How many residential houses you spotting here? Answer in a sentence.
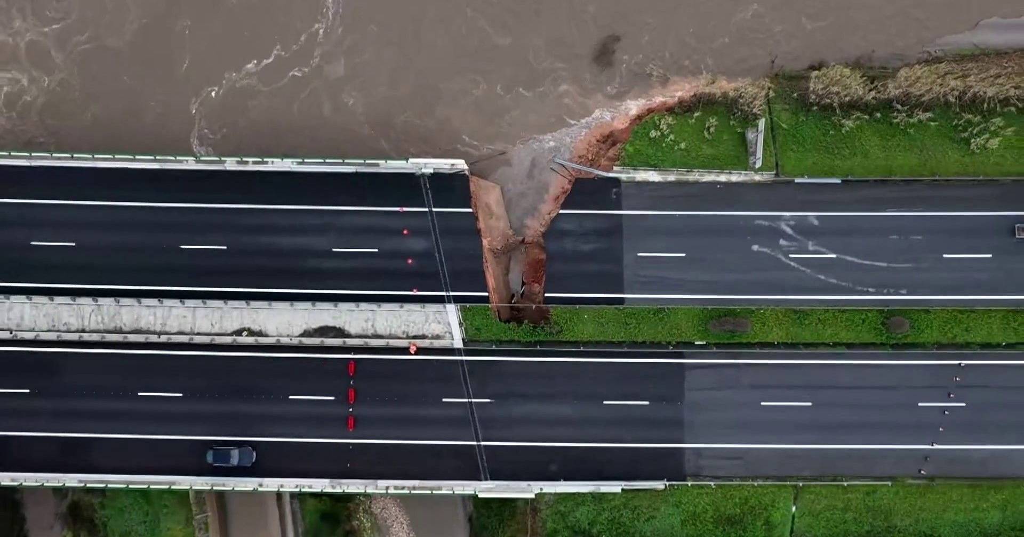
The count of residential houses is 0.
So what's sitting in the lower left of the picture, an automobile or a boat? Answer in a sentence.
It is an automobile that can be seen in the lower left of the picture.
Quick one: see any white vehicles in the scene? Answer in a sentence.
No, this view has no white vehicle in it.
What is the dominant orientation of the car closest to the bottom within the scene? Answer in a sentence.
The car closest to the bottom runs from side to side in the image.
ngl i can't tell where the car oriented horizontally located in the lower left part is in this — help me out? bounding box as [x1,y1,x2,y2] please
[206,444,257,469]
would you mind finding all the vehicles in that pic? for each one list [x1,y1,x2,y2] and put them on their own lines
[1008,223,1024,240]
[206,444,257,469]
